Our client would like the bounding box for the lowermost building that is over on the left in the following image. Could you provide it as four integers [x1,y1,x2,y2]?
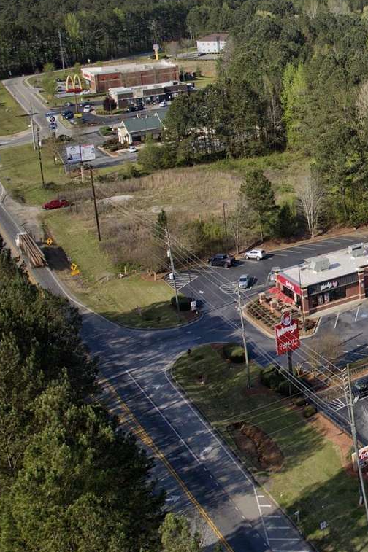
[111,113,165,141]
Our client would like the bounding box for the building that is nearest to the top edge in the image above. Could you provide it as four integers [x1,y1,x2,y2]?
[195,35,225,53]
